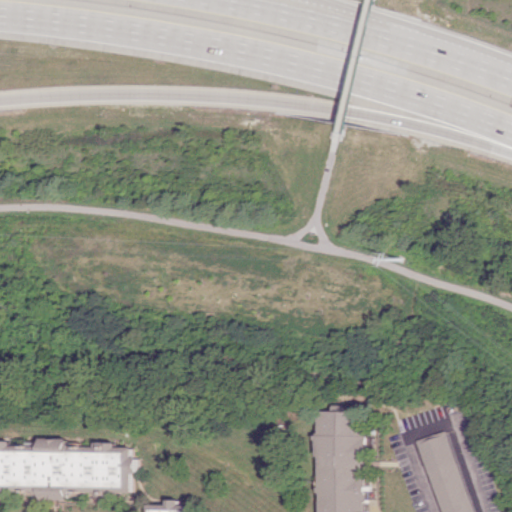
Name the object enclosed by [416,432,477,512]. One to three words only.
building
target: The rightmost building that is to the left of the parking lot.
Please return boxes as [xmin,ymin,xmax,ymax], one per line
[310,406,378,512]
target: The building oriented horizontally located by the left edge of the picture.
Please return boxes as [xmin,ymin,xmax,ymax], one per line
[0,438,147,500]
